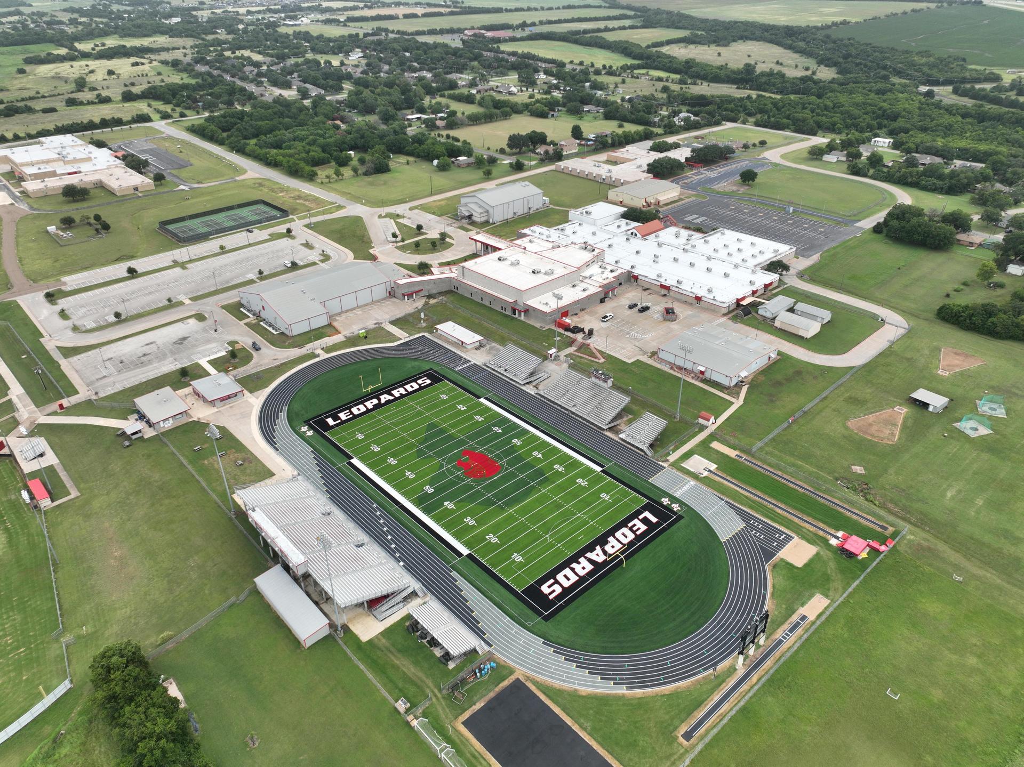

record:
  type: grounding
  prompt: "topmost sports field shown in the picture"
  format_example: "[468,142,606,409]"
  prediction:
[326,380,647,591]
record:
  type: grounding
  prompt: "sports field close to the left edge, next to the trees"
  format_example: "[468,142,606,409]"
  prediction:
[0,458,70,744]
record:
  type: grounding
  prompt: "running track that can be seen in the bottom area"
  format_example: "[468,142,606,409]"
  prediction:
[257,335,796,693]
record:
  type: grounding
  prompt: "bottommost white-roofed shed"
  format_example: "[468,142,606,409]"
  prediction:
[253,563,330,648]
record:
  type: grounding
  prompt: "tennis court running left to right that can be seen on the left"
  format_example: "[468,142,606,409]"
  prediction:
[164,204,282,233]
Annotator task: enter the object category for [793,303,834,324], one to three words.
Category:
building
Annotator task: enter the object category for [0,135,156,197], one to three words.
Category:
building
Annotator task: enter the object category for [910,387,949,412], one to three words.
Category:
shed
